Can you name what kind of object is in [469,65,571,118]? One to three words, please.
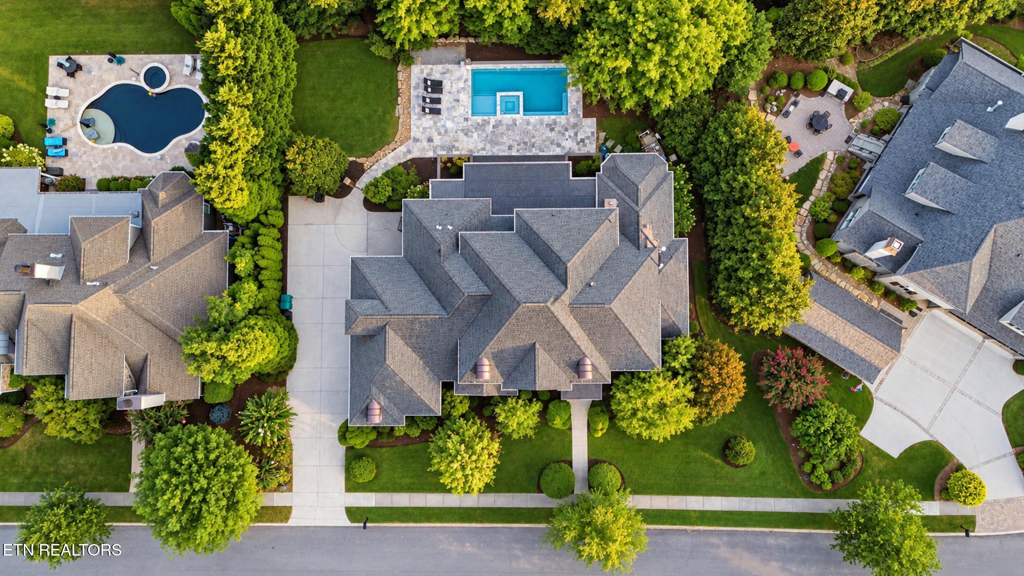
swimming pool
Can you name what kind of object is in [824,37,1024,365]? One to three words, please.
house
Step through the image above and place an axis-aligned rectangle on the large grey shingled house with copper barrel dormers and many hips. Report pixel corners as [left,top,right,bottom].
[344,152,690,427]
